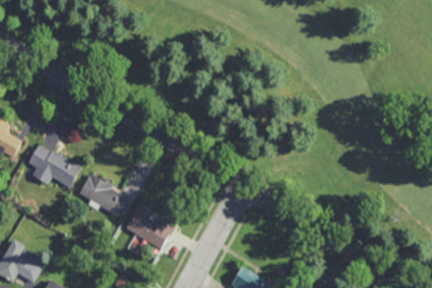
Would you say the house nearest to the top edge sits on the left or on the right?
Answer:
left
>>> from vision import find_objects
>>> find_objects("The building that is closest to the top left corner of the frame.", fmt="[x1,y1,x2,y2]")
[0,112,22,154]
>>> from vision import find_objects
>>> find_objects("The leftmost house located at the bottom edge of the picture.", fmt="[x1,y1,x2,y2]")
[0,237,42,288]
